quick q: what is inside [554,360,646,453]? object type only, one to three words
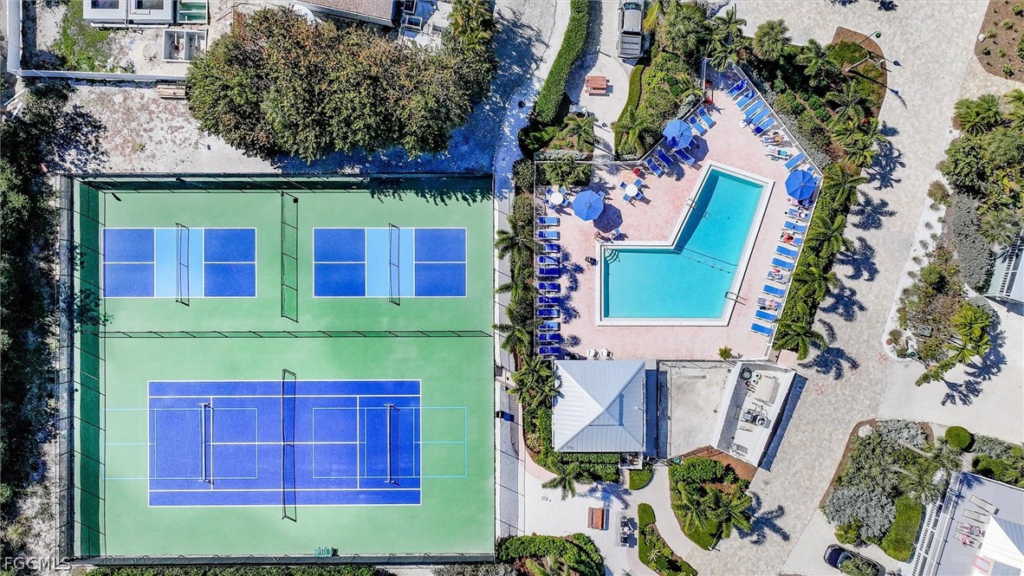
building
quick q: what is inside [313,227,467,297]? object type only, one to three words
sports court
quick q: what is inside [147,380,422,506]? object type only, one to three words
tennis court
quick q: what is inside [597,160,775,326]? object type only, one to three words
swimming pool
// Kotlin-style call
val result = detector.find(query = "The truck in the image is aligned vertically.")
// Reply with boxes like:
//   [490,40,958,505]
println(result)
[619,0,647,57]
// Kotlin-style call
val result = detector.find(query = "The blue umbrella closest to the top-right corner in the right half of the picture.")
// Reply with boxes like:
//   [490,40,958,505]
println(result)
[784,170,815,201]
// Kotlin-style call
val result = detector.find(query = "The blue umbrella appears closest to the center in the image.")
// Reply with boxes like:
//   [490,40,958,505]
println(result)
[572,190,604,221]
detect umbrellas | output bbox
[572,190,604,221]
[661,120,693,151]
[784,170,815,201]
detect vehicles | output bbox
[824,540,882,576]
[619,0,647,57]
